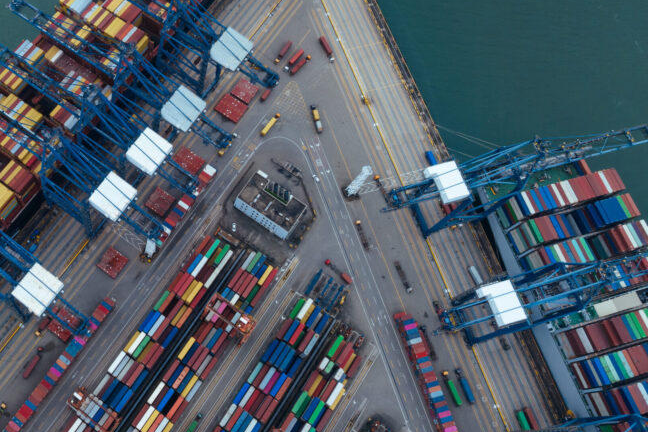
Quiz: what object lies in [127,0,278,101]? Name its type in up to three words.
container crane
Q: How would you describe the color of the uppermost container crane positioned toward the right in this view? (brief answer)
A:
blue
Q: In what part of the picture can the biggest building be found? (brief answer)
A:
center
